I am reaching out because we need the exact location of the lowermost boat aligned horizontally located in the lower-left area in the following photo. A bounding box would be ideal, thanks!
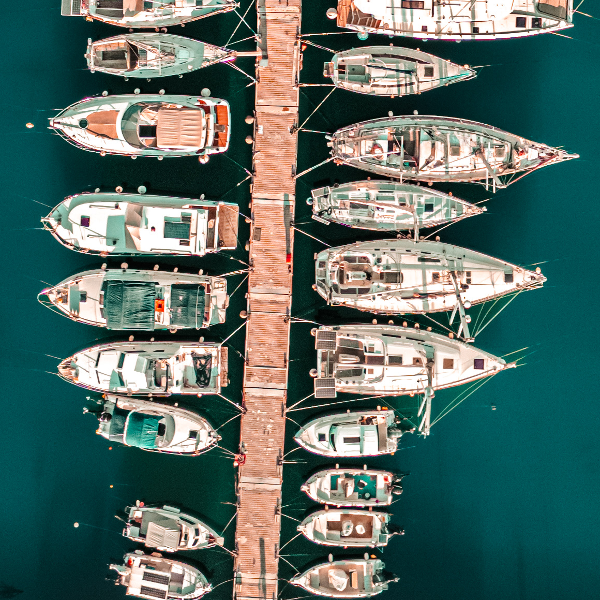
[110,554,212,600]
